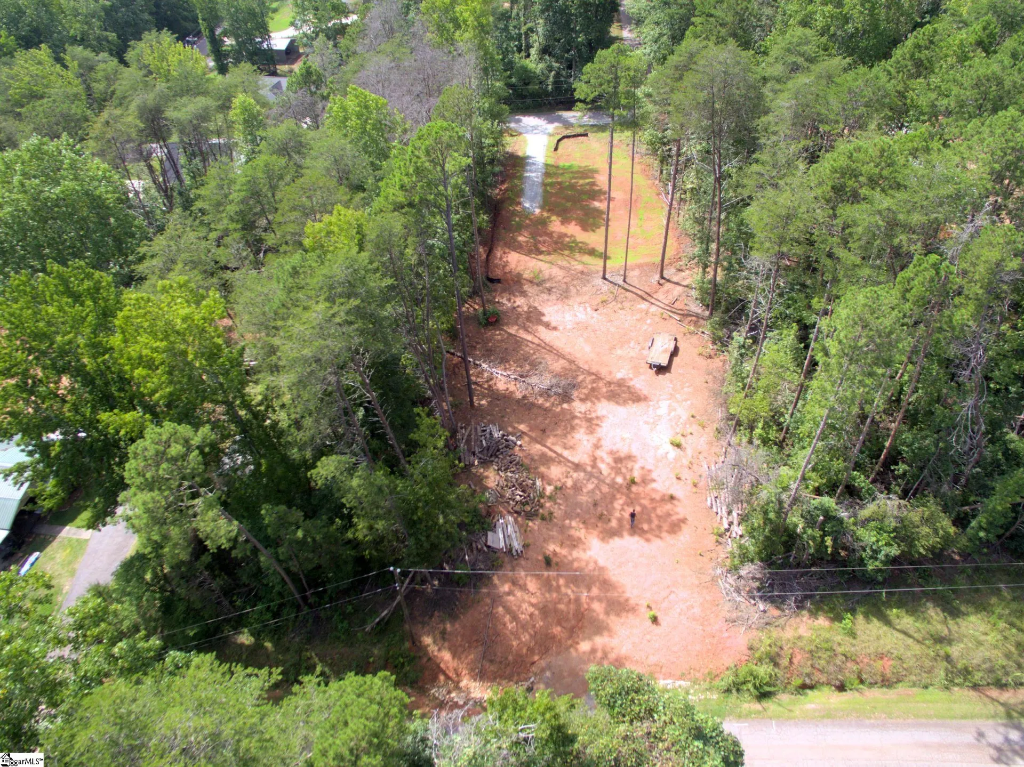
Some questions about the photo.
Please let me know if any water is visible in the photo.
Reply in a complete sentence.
No, no water is visible.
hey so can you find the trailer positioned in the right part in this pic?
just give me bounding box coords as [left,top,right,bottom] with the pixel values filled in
[644,333,677,376]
